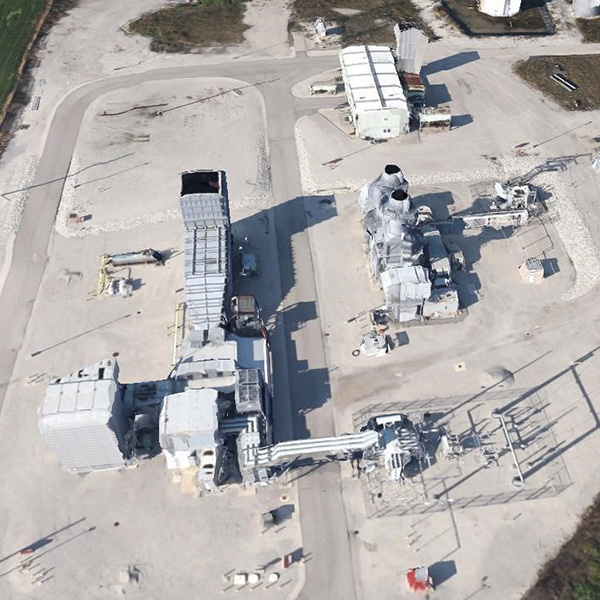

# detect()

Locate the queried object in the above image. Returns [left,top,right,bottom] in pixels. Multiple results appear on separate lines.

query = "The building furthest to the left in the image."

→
[43,357,139,474]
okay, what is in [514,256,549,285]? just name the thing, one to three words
shed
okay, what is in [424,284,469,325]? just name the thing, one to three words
building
